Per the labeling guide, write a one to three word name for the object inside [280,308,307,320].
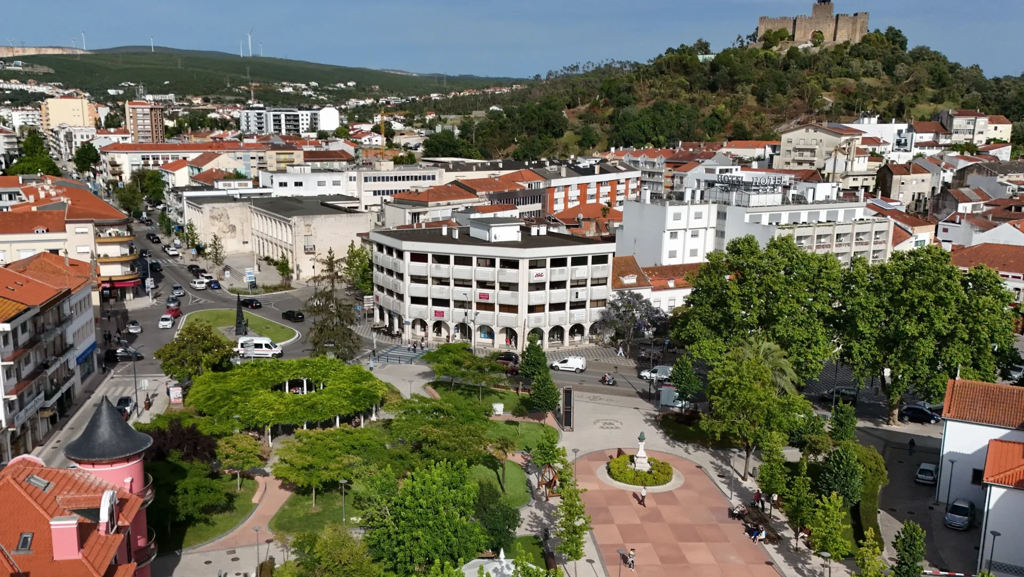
vehicle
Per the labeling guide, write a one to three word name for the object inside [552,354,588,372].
vehicle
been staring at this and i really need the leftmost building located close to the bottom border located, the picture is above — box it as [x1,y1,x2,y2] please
[0,395,166,577]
